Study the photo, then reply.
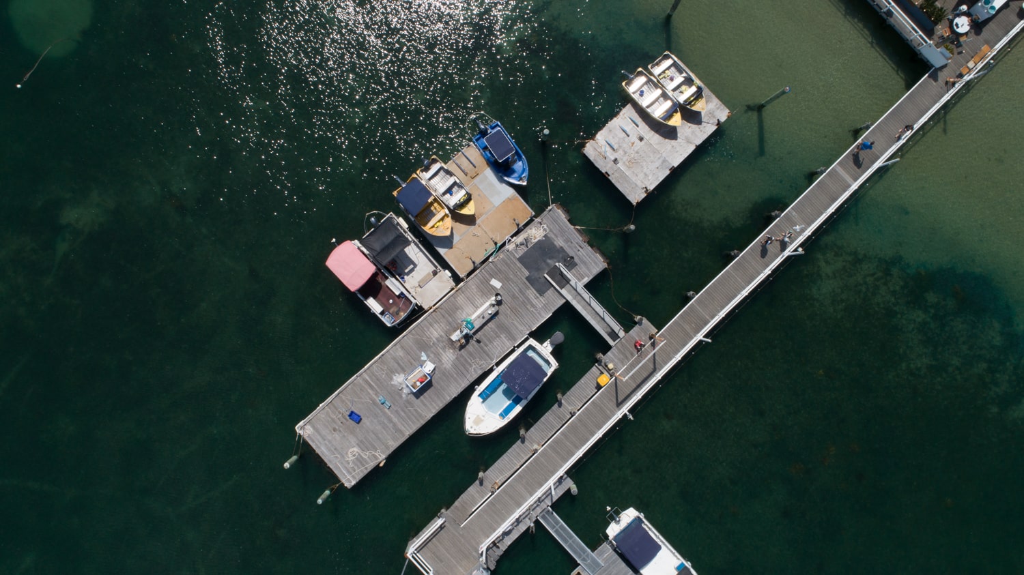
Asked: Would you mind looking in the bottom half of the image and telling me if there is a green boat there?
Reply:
No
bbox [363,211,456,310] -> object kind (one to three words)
vessel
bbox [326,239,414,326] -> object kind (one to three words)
boat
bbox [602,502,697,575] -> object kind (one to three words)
boat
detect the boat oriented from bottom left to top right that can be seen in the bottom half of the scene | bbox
[462,327,566,438]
